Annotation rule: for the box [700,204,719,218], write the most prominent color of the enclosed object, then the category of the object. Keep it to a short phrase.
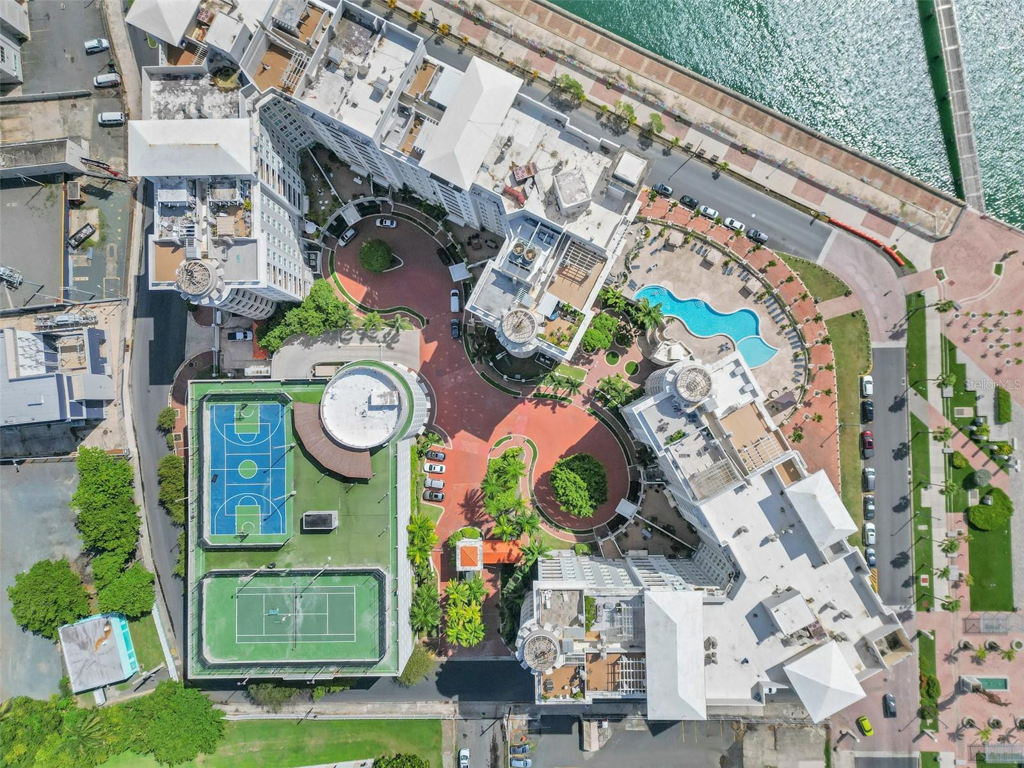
white car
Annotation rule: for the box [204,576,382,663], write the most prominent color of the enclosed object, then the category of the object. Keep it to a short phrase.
green tennis court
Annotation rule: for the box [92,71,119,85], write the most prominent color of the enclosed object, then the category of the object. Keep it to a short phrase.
white vehicle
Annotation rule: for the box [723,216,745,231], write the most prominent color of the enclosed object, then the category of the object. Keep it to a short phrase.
white car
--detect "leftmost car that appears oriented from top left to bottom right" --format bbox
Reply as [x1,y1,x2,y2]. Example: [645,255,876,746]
[435,244,452,266]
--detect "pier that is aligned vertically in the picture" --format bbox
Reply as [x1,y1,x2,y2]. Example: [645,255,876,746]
[925,0,984,212]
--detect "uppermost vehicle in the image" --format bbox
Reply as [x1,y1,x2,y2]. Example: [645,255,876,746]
[82,37,107,51]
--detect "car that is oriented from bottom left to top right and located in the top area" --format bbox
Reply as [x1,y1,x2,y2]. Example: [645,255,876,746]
[336,226,356,246]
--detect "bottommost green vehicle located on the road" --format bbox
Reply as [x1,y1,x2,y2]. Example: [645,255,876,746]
[858,718,873,737]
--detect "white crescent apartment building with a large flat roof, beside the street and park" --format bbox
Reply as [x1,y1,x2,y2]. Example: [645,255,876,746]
[508,348,915,722]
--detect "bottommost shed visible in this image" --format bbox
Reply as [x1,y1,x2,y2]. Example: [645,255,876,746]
[582,712,599,751]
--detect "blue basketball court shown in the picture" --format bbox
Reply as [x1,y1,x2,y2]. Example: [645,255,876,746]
[204,401,287,544]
